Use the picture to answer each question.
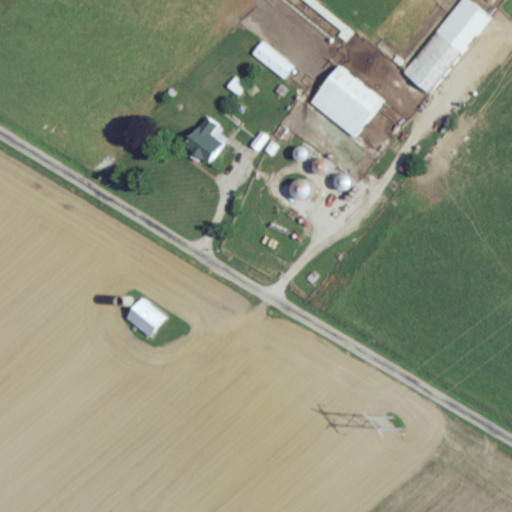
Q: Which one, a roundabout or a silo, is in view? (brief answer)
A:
silo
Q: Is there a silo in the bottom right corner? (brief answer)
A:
No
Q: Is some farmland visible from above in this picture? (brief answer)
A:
Yes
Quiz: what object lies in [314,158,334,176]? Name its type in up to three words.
silo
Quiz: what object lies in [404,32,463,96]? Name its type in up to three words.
barn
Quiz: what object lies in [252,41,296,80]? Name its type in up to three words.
shed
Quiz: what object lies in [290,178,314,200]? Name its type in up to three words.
silo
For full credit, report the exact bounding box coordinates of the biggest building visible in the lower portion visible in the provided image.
[126,296,168,338]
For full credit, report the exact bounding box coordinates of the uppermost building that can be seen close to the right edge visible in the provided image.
[436,0,494,56]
